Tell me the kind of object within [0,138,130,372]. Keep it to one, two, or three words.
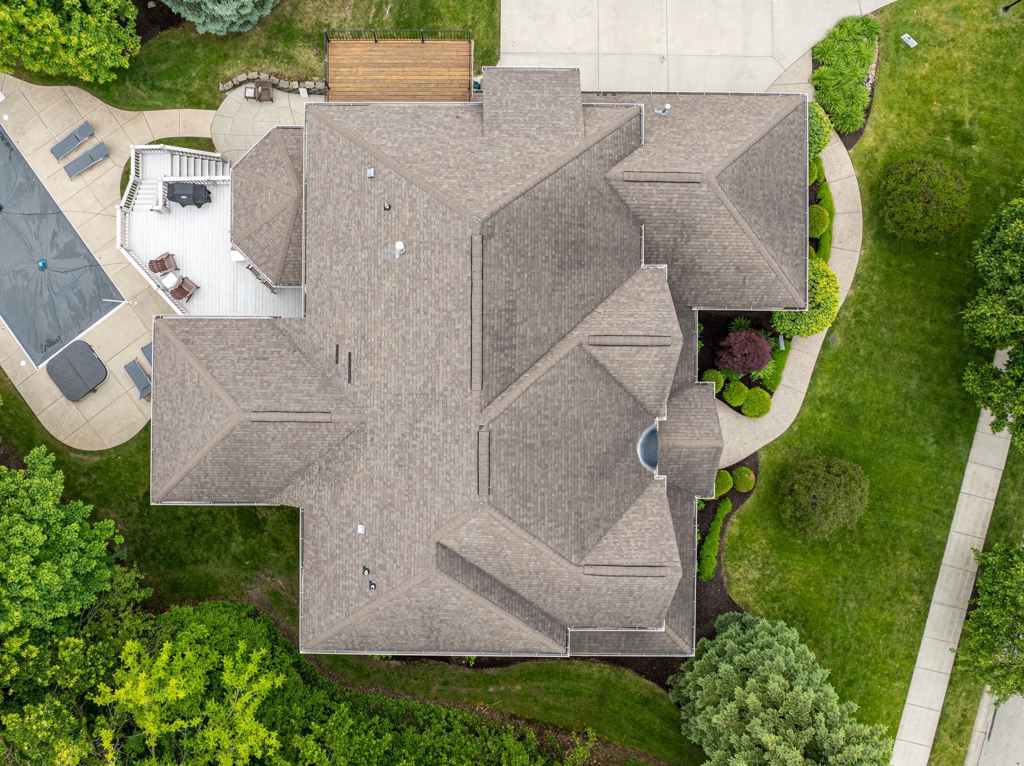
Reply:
swimming pool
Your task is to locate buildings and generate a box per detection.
[150,67,809,657]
